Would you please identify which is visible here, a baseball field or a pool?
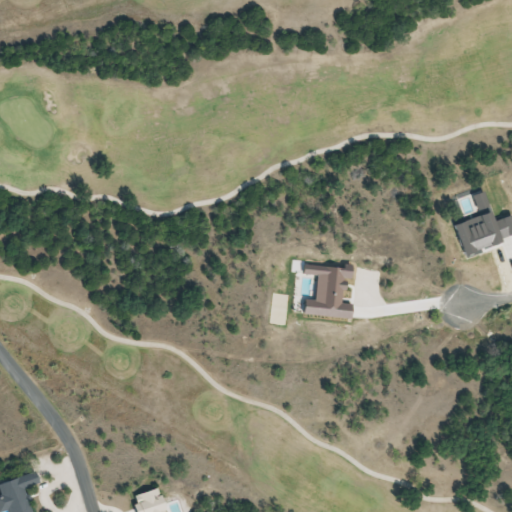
pool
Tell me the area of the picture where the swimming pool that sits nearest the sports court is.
center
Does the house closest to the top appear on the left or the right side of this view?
right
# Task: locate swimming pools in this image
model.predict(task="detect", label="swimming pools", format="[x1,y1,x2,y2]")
[458,194,475,216]
[168,500,184,512]
[294,274,316,312]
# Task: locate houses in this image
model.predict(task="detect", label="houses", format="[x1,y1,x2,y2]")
[304,264,354,319]
[0,472,40,512]
[455,194,512,258]
[135,488,170,512]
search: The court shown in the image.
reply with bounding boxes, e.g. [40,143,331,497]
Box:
[270,293,289,326]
